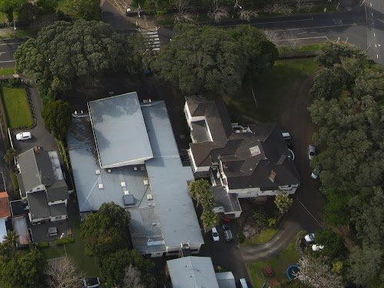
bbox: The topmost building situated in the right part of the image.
[173,96,300,219]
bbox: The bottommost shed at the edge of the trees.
[164,255,234,288]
